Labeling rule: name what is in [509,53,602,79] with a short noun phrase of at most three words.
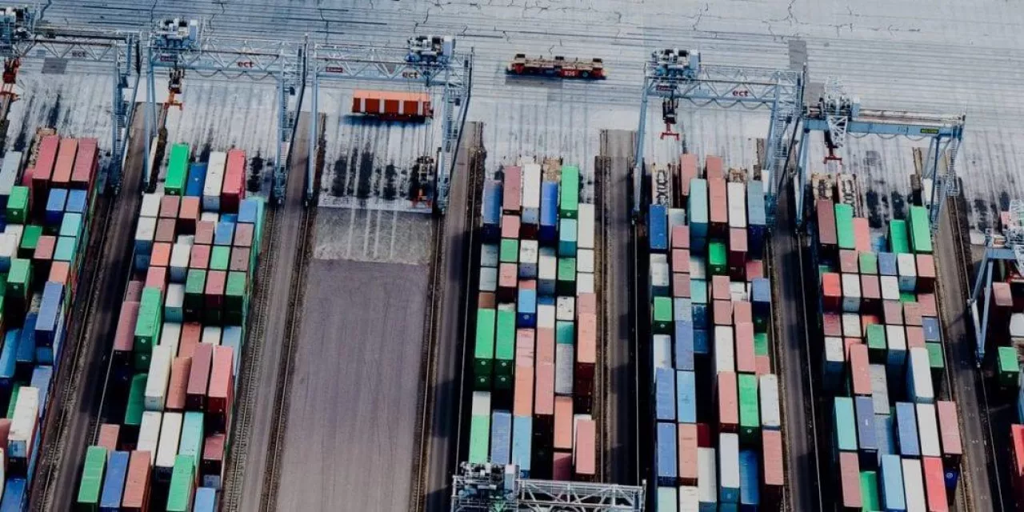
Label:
vehicle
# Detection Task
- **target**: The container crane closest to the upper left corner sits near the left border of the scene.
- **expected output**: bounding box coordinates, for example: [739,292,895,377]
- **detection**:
[0,4,146,190]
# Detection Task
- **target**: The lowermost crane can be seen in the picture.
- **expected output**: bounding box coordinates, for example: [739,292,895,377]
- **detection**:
[450,456,647,512]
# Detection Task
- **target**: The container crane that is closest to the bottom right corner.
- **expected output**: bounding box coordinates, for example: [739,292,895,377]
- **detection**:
[968,197,1024,356]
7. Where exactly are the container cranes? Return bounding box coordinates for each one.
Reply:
[306,31,476,209]
[968,197,1024,356]
[0,4,146,190]
[450,456,647,512]
[632,44,806,227]
[142,16,311,200]
[792,75,969,233]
